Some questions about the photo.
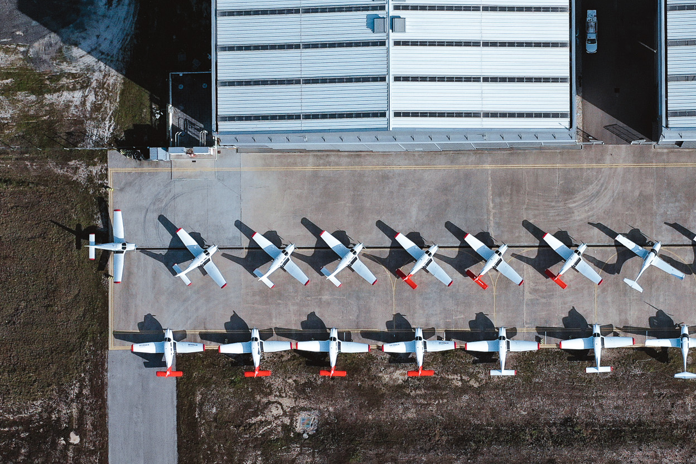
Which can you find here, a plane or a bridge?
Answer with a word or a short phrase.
plane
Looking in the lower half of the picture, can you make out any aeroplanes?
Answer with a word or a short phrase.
Yes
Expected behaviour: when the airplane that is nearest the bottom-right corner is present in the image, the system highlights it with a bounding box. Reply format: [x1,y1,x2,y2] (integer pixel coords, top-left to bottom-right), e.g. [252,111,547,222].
[646,325,696,378]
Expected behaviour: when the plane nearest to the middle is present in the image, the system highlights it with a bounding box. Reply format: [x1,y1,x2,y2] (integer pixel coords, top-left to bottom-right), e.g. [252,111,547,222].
[319,232,376,288]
